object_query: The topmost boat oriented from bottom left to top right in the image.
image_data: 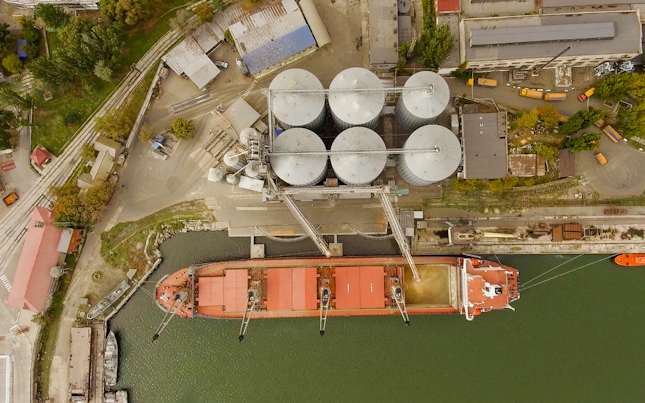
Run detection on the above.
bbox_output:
[87,281,130,319]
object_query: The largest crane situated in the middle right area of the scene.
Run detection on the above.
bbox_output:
[445,220,522,247]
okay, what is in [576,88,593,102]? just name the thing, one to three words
vehicle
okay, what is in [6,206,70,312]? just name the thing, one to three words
building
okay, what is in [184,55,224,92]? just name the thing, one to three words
shed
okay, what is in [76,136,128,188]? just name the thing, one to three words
house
